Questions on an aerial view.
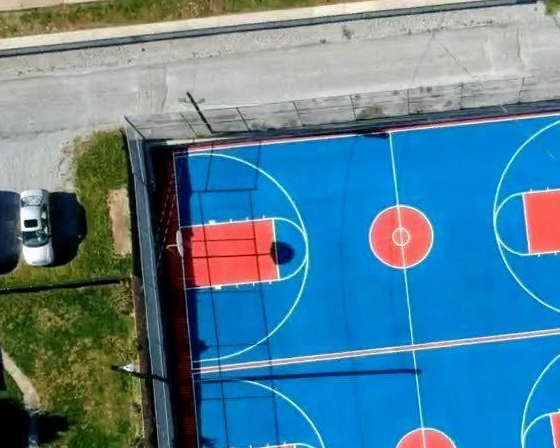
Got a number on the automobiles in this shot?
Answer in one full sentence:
Altogether the scene contains 1 automobile.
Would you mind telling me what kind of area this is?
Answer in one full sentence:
The picture captures a sports ground.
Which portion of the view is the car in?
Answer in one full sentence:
The car is located in the left region of the scene.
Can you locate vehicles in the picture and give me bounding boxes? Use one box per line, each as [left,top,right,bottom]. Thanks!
[12,184,55,266]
